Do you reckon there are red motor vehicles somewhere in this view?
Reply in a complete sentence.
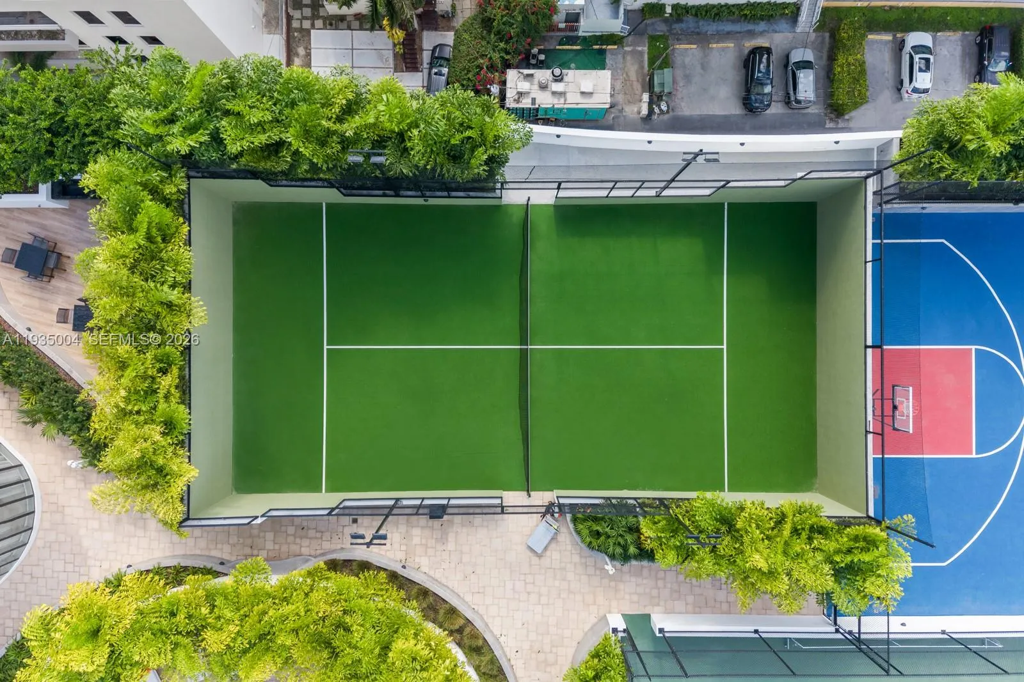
No, there's no red motor vehicle here.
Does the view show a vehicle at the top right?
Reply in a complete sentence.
Yes, you'll find a vehicle at the top right.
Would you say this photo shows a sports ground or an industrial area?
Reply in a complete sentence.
What you see here is a sports ground.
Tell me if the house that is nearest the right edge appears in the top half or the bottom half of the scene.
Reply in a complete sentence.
Seen from above, the house that is nearest the right edge lies in the top half of the view.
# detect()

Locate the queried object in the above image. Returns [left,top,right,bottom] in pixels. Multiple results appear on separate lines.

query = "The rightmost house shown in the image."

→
[577,0,632,34]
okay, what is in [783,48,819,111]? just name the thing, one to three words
car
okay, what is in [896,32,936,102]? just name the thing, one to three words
car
